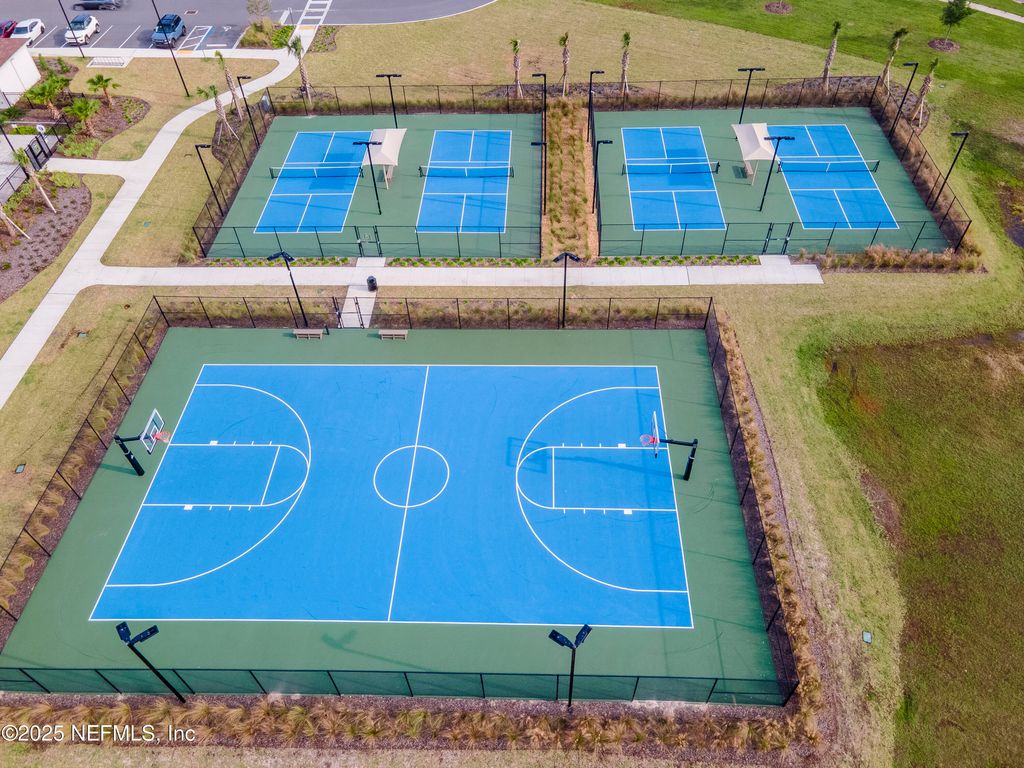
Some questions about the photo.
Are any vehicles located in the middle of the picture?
No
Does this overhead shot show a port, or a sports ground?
sports ground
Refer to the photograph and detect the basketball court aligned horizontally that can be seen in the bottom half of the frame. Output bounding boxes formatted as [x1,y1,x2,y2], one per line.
[0,327,784,706]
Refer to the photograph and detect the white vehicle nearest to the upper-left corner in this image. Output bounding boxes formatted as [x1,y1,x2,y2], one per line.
[7,18,43,44]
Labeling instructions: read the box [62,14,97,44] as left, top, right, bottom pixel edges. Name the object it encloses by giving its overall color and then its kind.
white car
